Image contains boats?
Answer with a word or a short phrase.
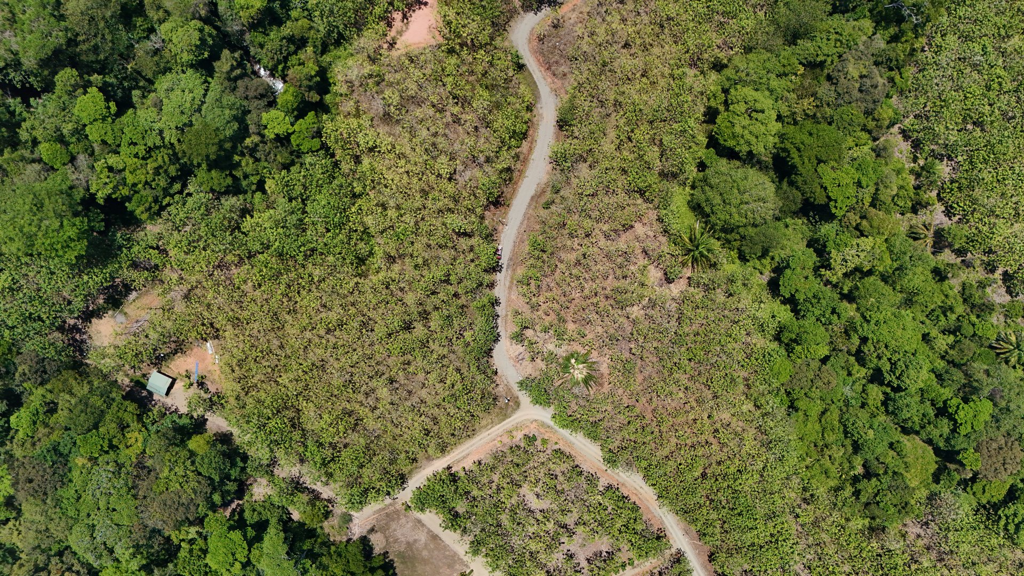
No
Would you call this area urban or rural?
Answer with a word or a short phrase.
rural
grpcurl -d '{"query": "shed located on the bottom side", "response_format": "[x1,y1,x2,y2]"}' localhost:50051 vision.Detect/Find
[146,371,176,396]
